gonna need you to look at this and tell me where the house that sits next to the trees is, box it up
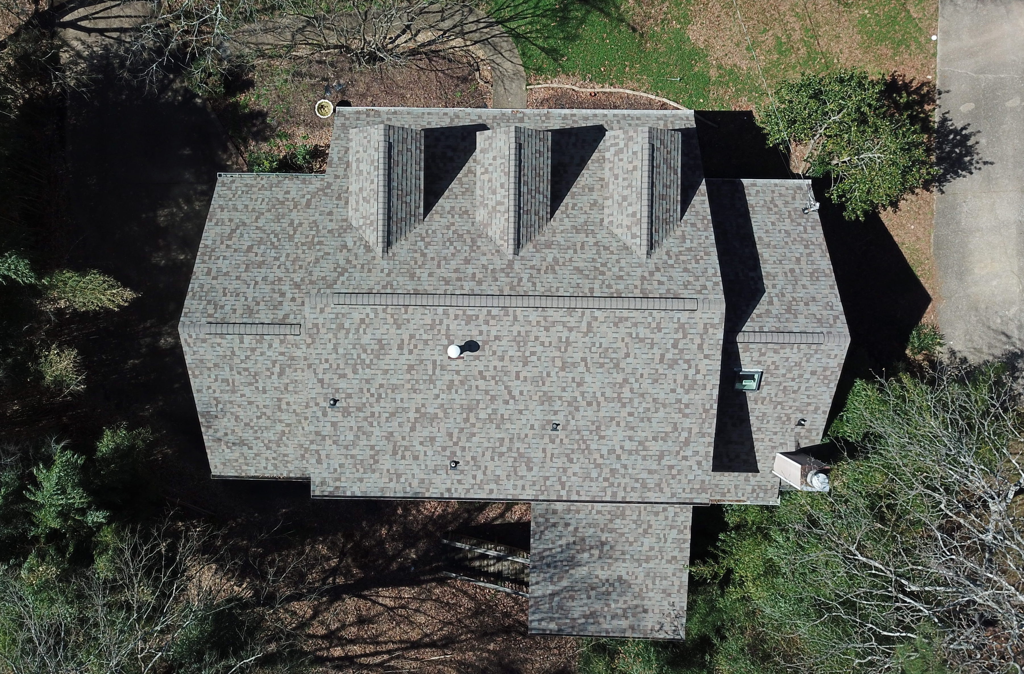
[177,105,851,641]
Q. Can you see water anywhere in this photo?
No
